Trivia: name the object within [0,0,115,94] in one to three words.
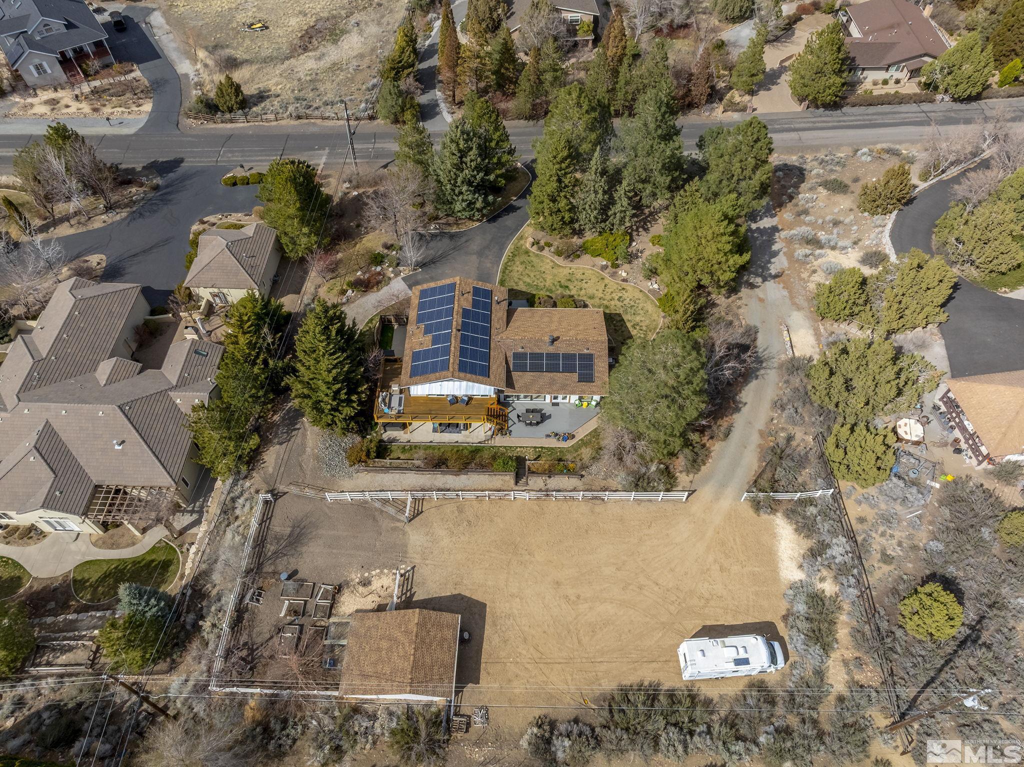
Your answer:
house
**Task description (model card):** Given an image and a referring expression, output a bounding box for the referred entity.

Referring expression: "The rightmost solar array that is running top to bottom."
[459,285,493,380]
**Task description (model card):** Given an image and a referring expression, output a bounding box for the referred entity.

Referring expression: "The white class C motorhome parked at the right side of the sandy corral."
[679,640,785,682]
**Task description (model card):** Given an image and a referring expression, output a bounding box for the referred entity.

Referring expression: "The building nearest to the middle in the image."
[398,278,610,410]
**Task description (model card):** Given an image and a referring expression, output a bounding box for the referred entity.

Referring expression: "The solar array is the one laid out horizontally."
[513,354,597,384]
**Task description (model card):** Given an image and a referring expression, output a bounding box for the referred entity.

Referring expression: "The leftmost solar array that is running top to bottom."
[406,282,452,380]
